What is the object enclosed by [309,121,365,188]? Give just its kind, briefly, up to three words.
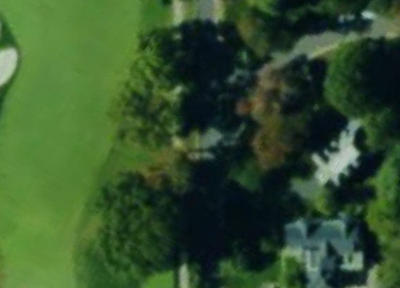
house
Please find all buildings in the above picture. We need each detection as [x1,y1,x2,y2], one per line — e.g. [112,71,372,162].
[309,121,365,188]
[287,219,365,288]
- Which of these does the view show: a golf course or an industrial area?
golf course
